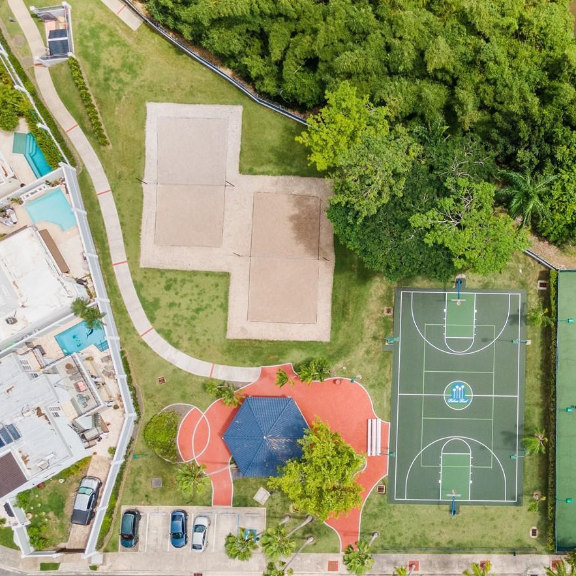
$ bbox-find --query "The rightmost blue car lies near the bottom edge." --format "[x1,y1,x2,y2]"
[169,510,189,547]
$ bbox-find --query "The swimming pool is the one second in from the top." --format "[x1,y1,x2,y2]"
[23,188,75,231]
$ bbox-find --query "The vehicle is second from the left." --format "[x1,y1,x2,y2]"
[120,511,142,546]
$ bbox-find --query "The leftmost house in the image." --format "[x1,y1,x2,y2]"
[0,154,40,217]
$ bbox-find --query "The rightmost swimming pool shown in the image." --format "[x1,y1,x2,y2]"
[53,320,108,356]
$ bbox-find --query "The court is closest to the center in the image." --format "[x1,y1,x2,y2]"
[227,174,335,342]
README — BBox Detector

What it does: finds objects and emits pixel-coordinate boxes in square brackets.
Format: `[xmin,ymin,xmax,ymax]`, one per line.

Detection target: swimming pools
[53,320,108,356]
[23,188,75,231]
[11,132,52,178]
